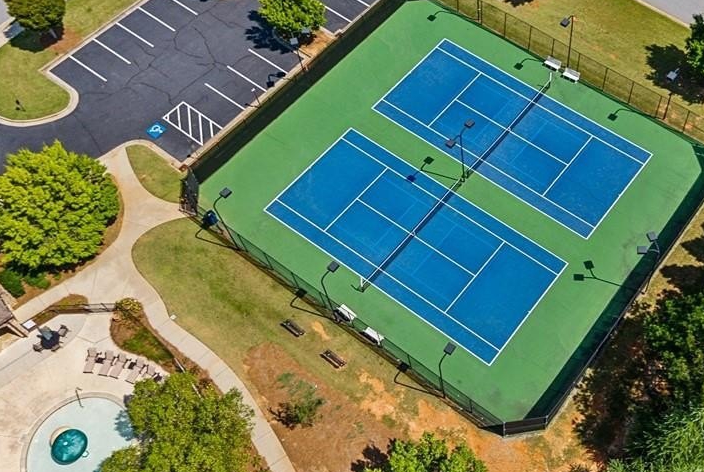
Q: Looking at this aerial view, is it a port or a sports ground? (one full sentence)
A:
What you see here is a sports ground.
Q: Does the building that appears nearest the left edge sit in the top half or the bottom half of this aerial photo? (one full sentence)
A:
It is in the bottom half that the building that appears nearest the left edge appears.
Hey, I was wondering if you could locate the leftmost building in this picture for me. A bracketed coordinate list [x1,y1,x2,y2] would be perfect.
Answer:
[0,294,28,351]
